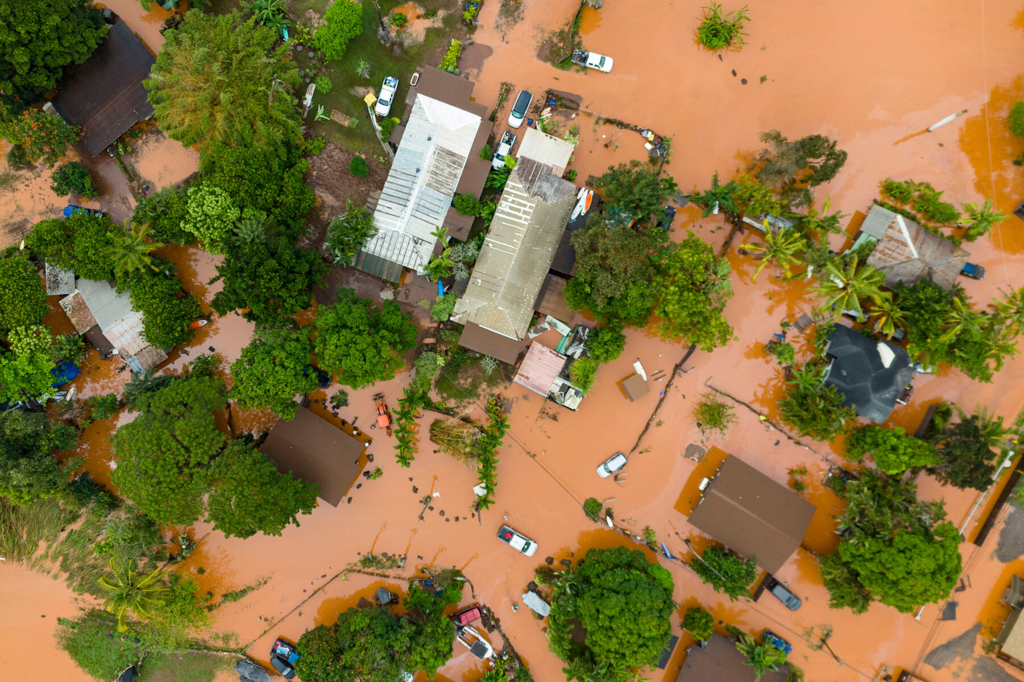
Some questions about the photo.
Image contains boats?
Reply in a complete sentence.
Yes, there is a boat in the image.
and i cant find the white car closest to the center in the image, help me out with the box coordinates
[593,448,630,478]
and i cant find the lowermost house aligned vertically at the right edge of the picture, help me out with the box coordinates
[988,575,1024,663]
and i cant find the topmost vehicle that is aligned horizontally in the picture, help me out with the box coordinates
[569,49,613,75]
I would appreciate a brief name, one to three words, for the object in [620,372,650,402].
shed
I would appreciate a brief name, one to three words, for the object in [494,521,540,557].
truck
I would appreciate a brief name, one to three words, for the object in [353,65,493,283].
house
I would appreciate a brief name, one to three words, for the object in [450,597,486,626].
car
